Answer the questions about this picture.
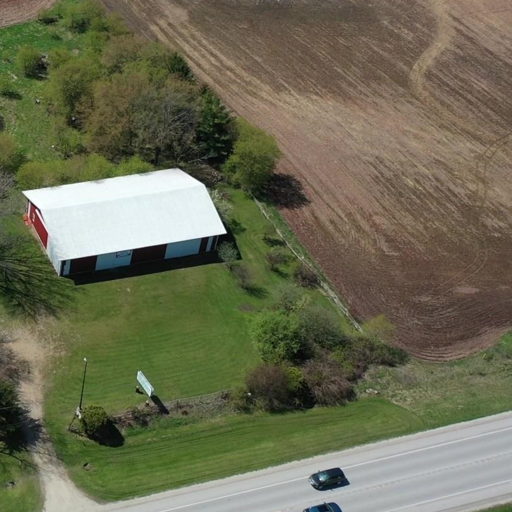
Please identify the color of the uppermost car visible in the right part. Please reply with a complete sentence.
The uppermost car visible in the right part looks black in the image.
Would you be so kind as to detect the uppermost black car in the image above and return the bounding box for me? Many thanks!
[310,465,348,489]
